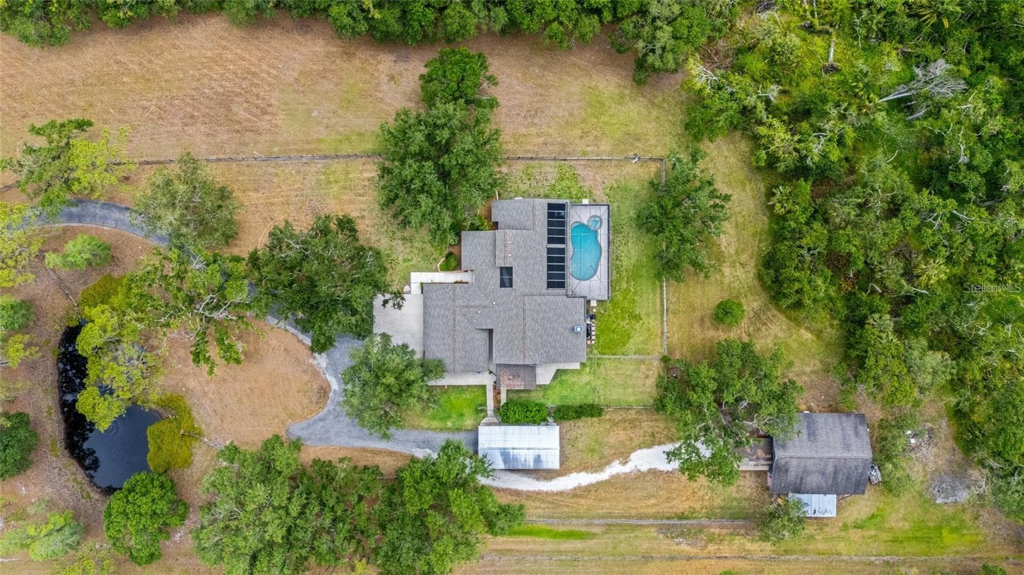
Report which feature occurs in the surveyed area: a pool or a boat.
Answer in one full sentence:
The image shows a pool.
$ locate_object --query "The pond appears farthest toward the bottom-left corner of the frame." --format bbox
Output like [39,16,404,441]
[60,319,172,490]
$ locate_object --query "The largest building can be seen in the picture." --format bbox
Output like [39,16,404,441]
[423,198,587,389]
